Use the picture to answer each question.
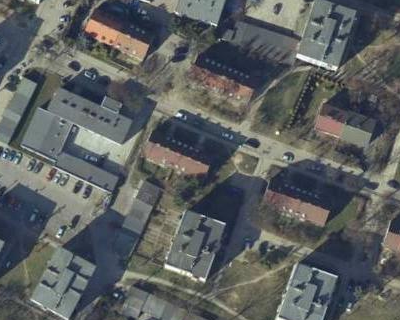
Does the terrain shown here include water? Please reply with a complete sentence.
No, the scene doesn't show any water.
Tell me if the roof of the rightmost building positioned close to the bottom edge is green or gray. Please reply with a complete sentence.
In this view, the roof of the rightmost building positioned close to the bottom edge is gray.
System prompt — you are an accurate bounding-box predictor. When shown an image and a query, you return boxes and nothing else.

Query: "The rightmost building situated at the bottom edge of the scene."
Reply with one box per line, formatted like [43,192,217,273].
[276,264,337,320]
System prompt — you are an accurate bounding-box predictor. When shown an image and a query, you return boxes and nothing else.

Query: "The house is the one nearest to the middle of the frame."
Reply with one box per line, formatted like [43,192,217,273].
[144,128,214,179]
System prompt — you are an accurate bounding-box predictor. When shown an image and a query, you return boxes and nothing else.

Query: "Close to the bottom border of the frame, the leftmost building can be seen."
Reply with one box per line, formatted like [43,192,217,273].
[32,245,96,320]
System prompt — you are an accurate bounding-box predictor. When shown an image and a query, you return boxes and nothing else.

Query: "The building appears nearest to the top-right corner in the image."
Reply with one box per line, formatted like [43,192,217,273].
[296,0,356,72]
